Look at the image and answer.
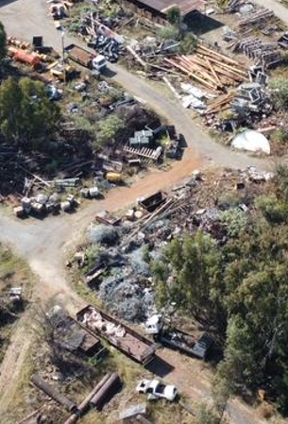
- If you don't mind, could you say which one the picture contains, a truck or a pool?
truck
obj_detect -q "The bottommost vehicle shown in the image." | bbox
[136,376,179,399]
